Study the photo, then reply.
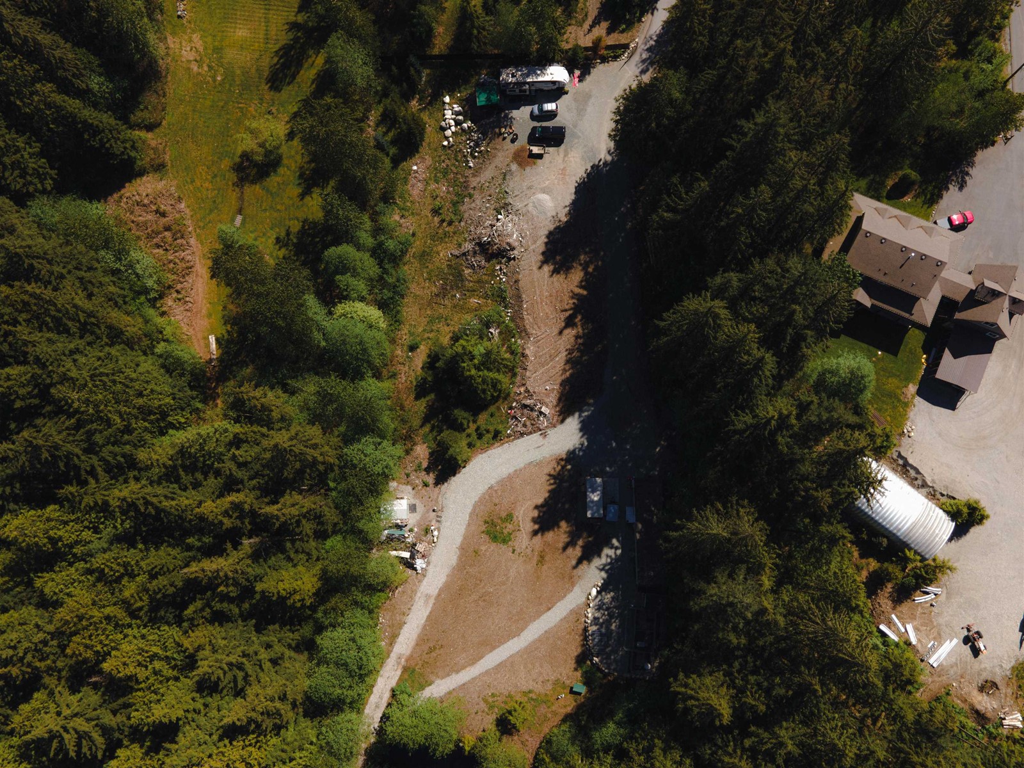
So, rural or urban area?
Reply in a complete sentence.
The land in this view is best described as rural.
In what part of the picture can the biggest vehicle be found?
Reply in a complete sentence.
The biggest vehicle appears toward the top of the photo.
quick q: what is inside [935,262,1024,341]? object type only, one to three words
building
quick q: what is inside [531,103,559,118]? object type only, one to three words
car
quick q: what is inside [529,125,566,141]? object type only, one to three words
vehicle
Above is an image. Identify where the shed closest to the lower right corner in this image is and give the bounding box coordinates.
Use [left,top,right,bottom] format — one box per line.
[853,459,960,559]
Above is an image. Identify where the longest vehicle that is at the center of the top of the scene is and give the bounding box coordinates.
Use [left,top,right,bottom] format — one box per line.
[500,66,568,97]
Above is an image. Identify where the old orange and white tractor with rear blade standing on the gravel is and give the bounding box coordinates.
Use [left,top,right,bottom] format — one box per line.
[967,624,988,654]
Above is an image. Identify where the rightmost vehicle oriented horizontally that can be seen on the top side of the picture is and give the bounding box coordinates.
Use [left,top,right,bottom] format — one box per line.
[934,212,971,228]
